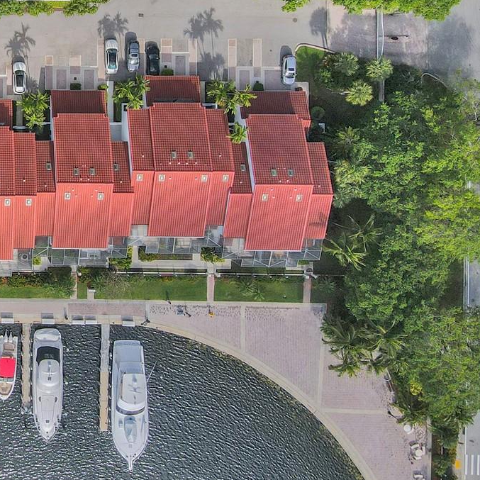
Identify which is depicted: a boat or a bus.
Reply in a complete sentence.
I can see a boat in this picture.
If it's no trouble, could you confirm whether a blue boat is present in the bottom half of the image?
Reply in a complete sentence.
No, no blue boat can be made out in the bottom half of the image.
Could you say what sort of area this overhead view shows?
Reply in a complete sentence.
This looks like a residential area.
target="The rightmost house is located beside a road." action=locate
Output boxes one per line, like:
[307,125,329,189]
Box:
[228,91,334,267]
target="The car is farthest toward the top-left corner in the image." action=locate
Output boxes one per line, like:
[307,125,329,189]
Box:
[12,62,27,93]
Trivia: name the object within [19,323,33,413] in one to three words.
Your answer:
pier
